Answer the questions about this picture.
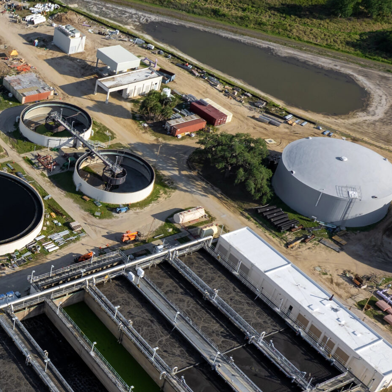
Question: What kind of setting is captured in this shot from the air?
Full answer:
What you see here is an industrial area.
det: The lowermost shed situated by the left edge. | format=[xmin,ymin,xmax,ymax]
[2,72,54,104]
